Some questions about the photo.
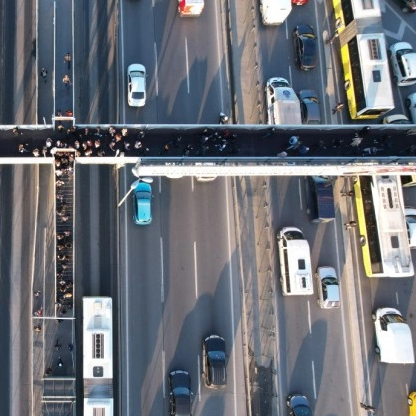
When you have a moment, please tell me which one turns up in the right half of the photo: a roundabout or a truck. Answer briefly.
truck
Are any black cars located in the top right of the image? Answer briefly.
Yes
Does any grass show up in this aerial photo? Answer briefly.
No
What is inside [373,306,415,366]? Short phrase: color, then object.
white van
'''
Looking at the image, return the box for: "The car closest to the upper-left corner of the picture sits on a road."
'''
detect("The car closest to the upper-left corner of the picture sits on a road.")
[125,64,149,107]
